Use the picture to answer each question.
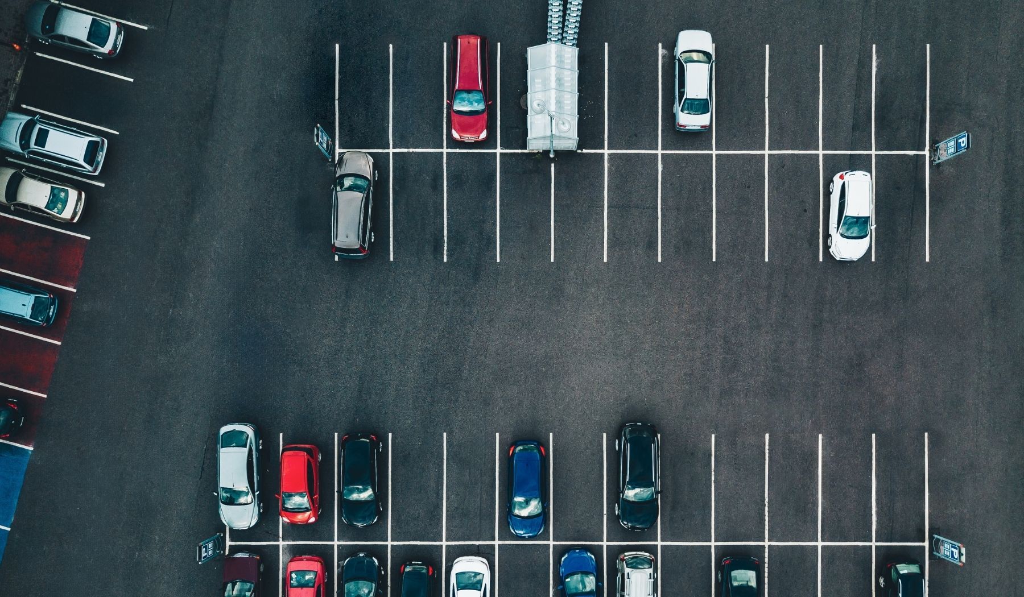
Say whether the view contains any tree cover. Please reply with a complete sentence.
No, there's no tree cover in this view.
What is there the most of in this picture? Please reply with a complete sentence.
What you mostly see from above here is paved ground.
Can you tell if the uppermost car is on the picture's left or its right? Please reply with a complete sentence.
It is on the left.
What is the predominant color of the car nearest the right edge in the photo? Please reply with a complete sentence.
The car nearest the right edge is black.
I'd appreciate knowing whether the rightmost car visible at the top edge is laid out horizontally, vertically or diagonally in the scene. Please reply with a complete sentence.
I'd say the rightmost car visible at the top edge is aligned vertically in the picture.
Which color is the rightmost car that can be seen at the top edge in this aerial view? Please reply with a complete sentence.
The color of the rightmost car that can be seen at the top edge is white.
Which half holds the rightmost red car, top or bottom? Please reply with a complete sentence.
You can find the rightmost red car in the top half.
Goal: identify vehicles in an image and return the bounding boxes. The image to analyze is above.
[825,170,879,261]
[720,554,763,597]
[450,554,490,597]
[673,29,720,133]
[0,163,86,220]
[0,109,109,173]
[335,551,384,597]
[615,422,665,532]
[22,0,126,55]
[334,433,382,529]
[397,561,436,597]
[326,150,376,259]
[272,443,321,525]
[555,545,604,597]
[214,549,264,597]
[0,276,62,327]
[617,550,658,597]
[445,33,493,143]
[881,558,930,597]
[210,422,263,529]
[284,553,328,597]
[503,439,551,539]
